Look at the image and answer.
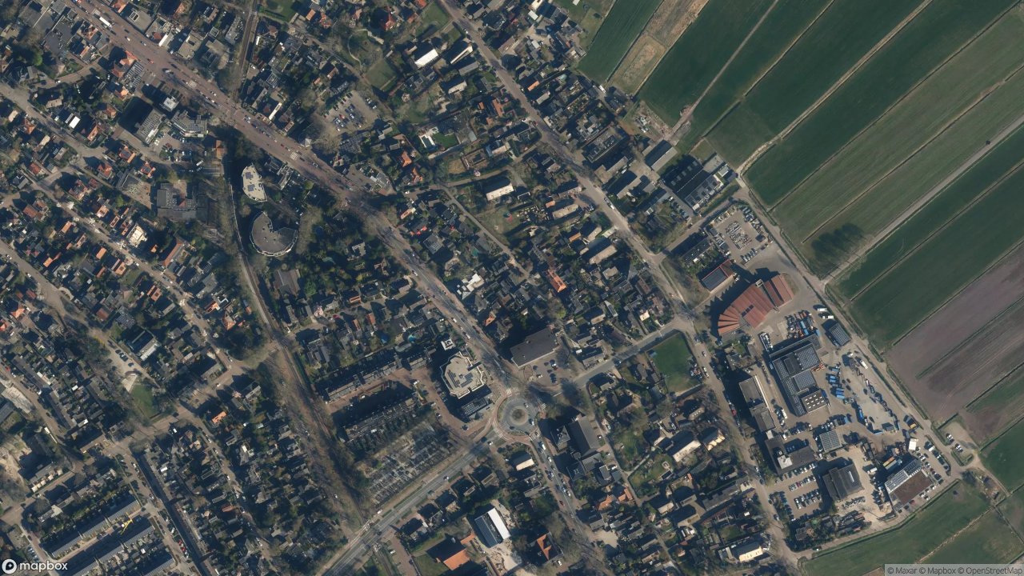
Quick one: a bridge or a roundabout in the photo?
roundabout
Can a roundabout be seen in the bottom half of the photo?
Yes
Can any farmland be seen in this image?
Yes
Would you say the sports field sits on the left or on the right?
right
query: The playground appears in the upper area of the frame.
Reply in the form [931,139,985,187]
[474,206,518,246]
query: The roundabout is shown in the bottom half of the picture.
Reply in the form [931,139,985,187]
[489,385,548,444]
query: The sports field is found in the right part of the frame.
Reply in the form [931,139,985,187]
[646,330,702,393]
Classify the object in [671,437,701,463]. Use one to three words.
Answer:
house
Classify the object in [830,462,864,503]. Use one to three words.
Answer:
building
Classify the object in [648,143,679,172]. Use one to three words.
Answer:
house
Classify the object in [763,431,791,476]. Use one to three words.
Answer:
building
